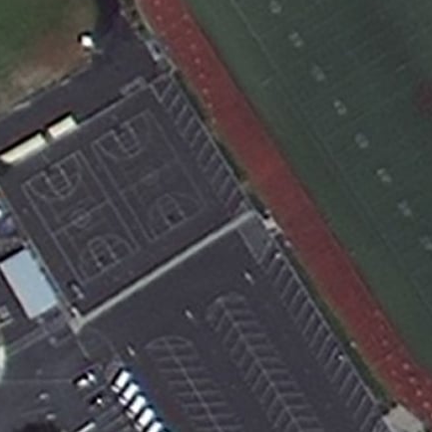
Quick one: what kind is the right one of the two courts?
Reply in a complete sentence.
I'd identify the right one of the two courts as a basketball court.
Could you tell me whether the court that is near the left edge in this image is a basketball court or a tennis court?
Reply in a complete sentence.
It turns out the court that is near the left edge is a basketball court.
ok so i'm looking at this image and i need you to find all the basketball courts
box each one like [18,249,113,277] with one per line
[89,110,207,243]
[18,150,141,287]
